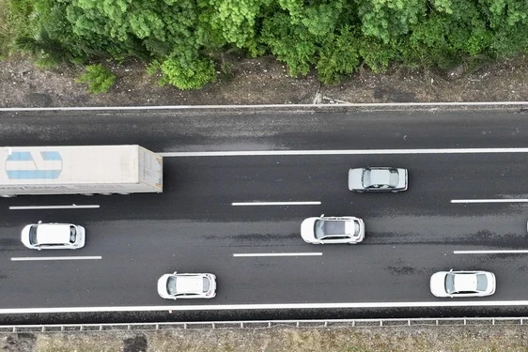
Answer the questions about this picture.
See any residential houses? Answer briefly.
No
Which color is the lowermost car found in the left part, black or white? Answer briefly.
white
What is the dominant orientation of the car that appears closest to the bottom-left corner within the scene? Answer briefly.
from left to right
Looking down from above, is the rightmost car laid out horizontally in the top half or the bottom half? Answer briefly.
bottom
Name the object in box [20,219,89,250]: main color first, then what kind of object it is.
white car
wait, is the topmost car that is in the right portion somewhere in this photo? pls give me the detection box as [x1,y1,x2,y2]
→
[347,163,409,194]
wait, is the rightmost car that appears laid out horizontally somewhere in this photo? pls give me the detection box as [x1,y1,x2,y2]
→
[429,268,496,299]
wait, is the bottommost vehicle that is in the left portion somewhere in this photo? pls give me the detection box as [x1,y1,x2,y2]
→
[157,270,219,300]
